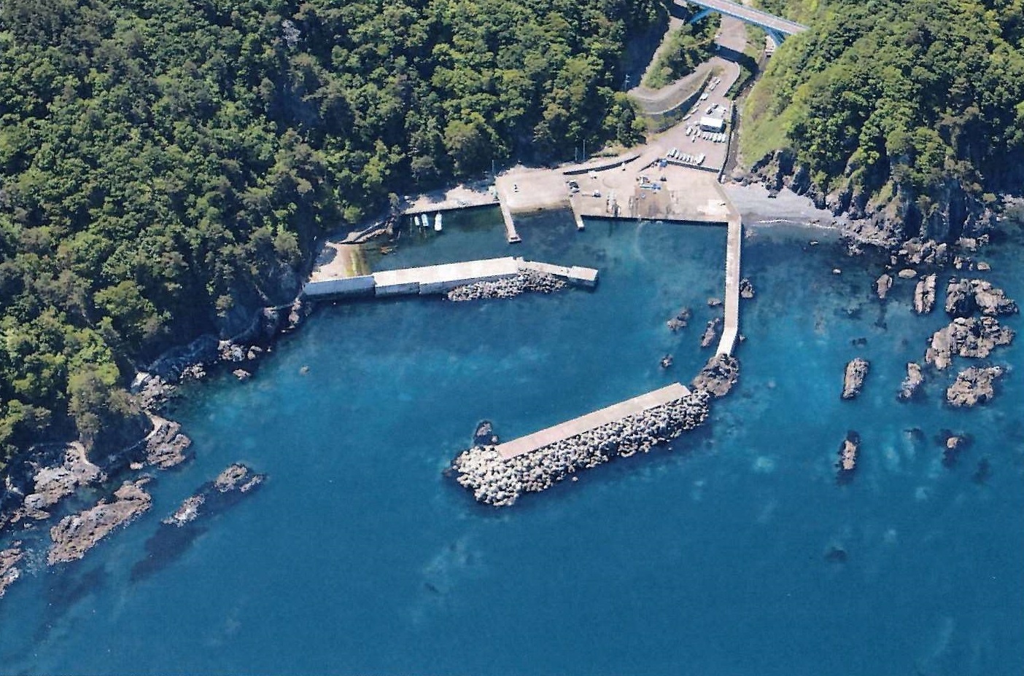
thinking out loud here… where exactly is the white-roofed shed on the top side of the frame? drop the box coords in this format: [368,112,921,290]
[701,113,726,132]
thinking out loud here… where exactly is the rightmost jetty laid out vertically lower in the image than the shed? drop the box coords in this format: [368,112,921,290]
[716,213,742,361]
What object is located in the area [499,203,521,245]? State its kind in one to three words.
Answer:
pier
